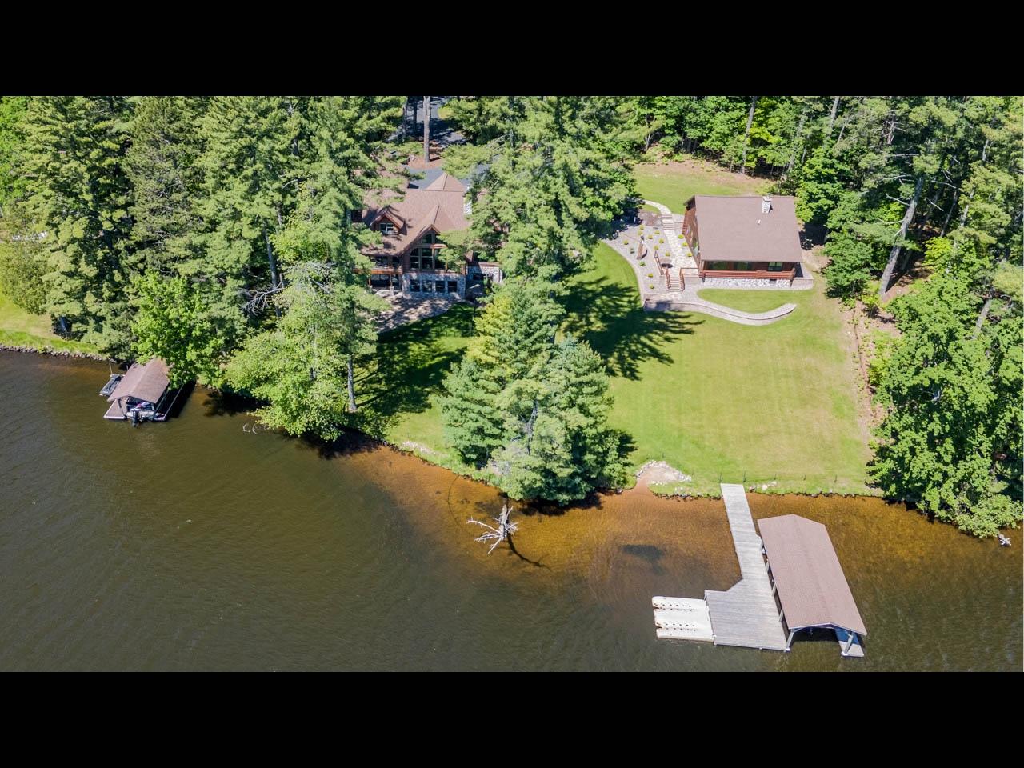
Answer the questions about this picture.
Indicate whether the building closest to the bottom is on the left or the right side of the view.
right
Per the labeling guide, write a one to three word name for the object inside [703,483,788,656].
pier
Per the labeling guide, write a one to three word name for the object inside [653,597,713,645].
pier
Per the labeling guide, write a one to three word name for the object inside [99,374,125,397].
boat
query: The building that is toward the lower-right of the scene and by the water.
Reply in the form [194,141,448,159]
[755,510,867,663]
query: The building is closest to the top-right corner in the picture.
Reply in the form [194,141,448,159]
[680,187,804,285]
